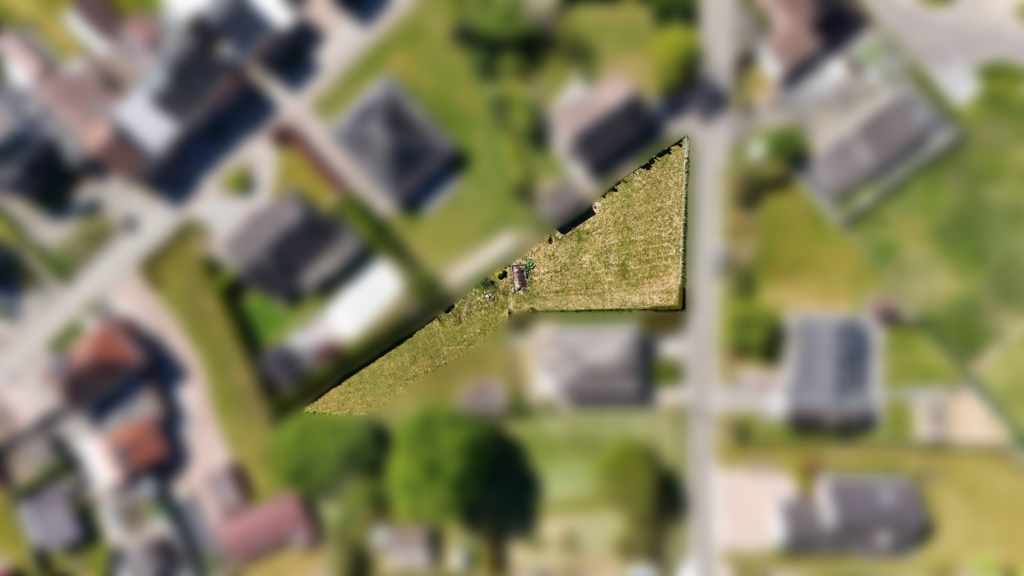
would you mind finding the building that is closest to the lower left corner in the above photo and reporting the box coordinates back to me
[18,482,92,553]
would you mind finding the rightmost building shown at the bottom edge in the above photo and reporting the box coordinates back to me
[823,471,931,552]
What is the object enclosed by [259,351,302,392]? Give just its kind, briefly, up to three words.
shed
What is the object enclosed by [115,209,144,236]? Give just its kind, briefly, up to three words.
car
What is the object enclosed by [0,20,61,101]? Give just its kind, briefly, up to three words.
house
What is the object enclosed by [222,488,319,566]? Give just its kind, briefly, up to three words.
barn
